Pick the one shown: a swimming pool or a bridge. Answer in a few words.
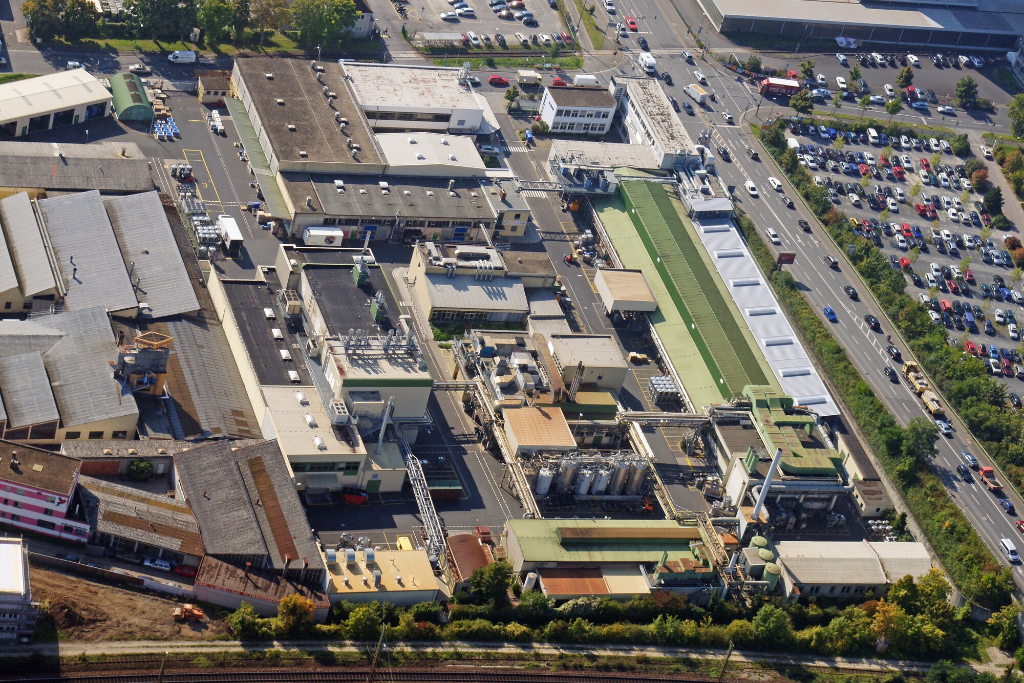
bridge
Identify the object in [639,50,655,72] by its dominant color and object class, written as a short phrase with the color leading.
white camper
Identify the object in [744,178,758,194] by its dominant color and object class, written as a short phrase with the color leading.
white vehicle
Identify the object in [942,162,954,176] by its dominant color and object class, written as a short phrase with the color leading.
gray vehicle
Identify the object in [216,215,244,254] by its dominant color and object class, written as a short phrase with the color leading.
white truck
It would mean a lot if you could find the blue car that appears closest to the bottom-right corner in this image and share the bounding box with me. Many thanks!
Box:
[999,500,1015,514]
